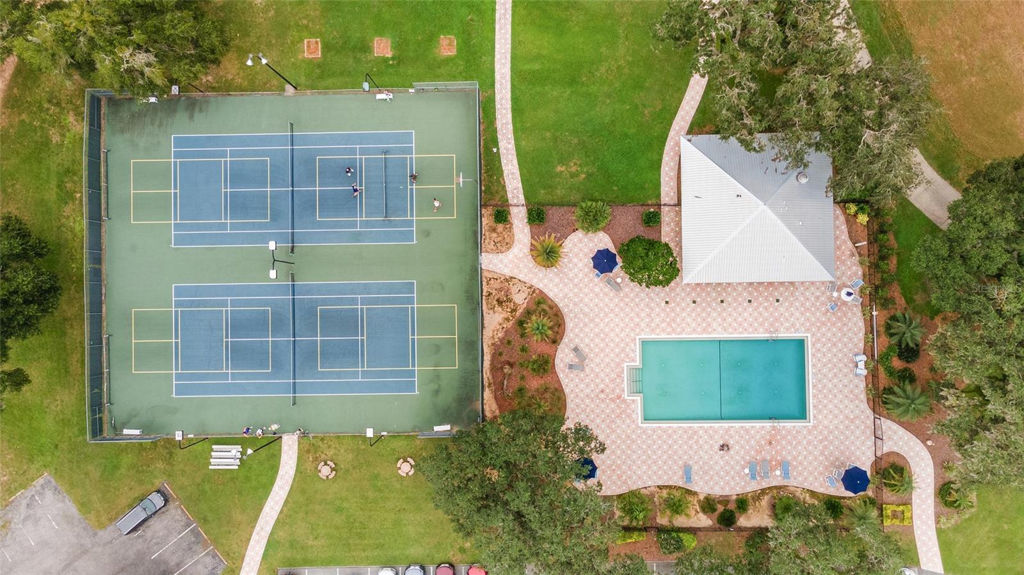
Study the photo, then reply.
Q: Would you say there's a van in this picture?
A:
Yes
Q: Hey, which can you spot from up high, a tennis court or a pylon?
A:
tennis court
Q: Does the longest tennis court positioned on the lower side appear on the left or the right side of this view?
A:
left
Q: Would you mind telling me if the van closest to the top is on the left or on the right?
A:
left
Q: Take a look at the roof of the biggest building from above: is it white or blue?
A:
white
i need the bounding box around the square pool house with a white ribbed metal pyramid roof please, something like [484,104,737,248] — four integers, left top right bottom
[681,132,835,284]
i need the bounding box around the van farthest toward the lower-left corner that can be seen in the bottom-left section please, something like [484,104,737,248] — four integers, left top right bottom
[108,490,167,539]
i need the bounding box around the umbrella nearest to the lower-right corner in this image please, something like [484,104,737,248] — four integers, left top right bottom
[839,465,869,494]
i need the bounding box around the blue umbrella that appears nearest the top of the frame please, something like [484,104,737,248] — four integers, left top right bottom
[591,247,618,274]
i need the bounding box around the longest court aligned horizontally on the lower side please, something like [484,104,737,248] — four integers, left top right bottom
[107,262,481,436]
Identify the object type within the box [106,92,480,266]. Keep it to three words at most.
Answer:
tennis court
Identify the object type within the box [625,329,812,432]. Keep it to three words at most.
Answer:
swimming pool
